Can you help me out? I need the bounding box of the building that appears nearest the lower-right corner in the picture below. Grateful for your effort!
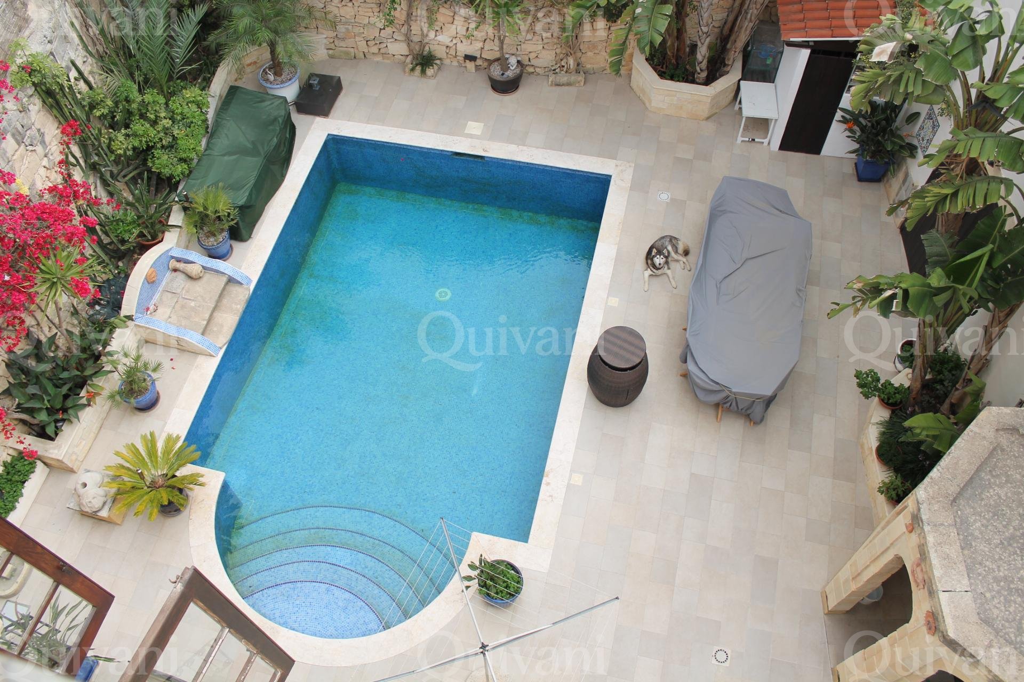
[823,401,1024,682]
